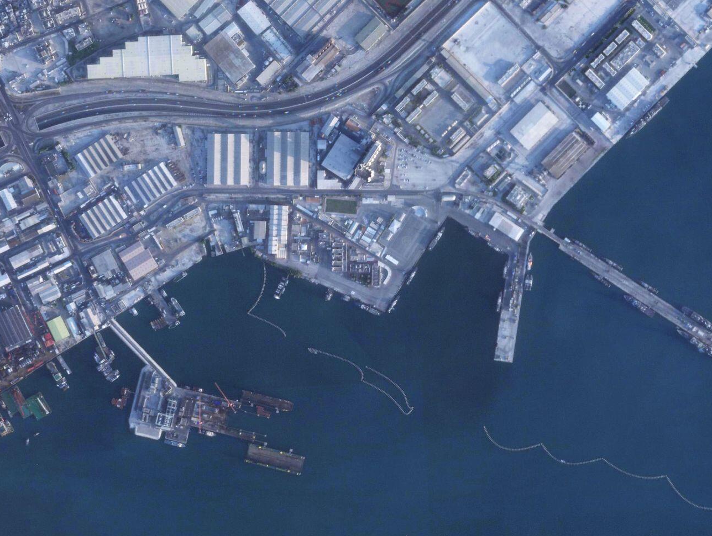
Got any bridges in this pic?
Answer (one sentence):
Yes, a bridge is visible in the scene.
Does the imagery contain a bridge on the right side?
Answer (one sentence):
No, there is no bridge on the right side.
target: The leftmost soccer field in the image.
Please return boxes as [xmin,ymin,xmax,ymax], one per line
[324,197,359,216]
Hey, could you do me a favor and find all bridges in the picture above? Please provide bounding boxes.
[107,318,179,389]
